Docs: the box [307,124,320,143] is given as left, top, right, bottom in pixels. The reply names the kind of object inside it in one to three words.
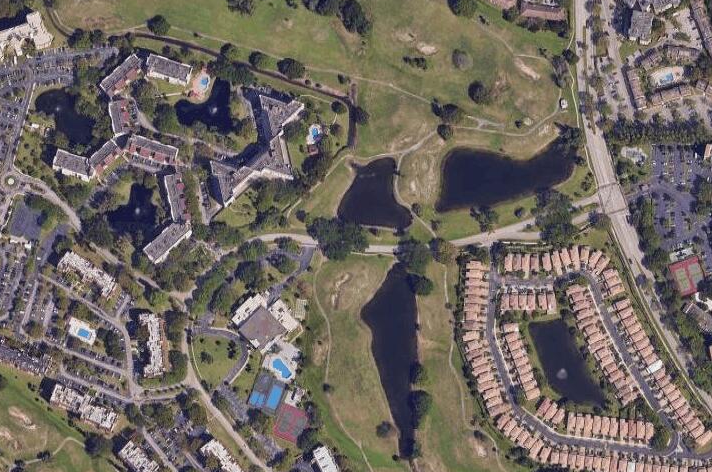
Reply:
swimming pool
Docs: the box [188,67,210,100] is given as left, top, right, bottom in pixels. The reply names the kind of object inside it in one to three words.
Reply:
swimming pool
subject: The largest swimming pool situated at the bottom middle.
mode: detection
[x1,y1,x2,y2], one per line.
[262,340,301,382]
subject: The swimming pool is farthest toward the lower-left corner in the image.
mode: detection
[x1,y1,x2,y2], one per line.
[68,317,95,344]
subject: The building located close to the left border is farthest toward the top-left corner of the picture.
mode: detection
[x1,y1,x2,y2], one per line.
[0,11,56,63]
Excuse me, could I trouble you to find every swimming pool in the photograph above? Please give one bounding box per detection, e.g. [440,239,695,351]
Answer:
[188,67,210,100]
[307,124,320,143]
[68,317,95,344]
[649,65,684,84]
[262,340,301,382]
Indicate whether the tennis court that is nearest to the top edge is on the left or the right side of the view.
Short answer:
right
